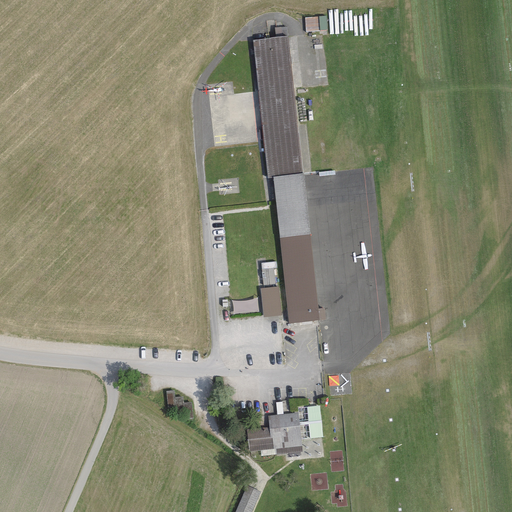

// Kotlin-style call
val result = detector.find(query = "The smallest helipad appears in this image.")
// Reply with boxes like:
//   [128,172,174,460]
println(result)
[313,68,328,80]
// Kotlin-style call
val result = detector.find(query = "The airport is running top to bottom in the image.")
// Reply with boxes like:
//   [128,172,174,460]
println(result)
[304,0,512,512]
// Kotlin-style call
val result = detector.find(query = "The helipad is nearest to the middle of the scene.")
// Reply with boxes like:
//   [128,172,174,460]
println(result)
[206,178,240,194]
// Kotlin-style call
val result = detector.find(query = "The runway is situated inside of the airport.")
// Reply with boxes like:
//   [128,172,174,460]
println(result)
[392,0,512,512]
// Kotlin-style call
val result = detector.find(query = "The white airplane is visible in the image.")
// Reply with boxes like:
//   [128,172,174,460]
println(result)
[353,242,372,270]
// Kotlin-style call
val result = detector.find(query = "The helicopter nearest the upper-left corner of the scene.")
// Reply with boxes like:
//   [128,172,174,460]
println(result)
[200,82,228,102]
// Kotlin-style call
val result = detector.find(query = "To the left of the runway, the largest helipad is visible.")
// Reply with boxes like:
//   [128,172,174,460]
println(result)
[207,82,258,146]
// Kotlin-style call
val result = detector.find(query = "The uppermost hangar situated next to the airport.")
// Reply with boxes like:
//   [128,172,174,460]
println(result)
[252,36,304,176]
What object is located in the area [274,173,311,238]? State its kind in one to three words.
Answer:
hangar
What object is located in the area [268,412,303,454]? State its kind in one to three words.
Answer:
house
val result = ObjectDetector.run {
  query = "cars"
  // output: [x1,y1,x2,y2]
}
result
[211,214,223,220]
[283,328,295,336]
[270,354,275,364]
[214,244,224,248]
[212,222,224,228]
[224,310,230,320]
[272,321,276,334]
[274,387,280,399]
[218,281,229,286]
[214,236,224,241]
[276,352,282,364]
[153,348,158,358]
[193,350,198,362]
[324,342,328,354]
[240,402,245,411]
[253,33,264,38]
[246,354,252,366]
[212,230,225,234]
[176,350,182,360]
[264,402,268,414]
[286,386,292,398]
[284,336,296,344]
[254,401,260,412]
